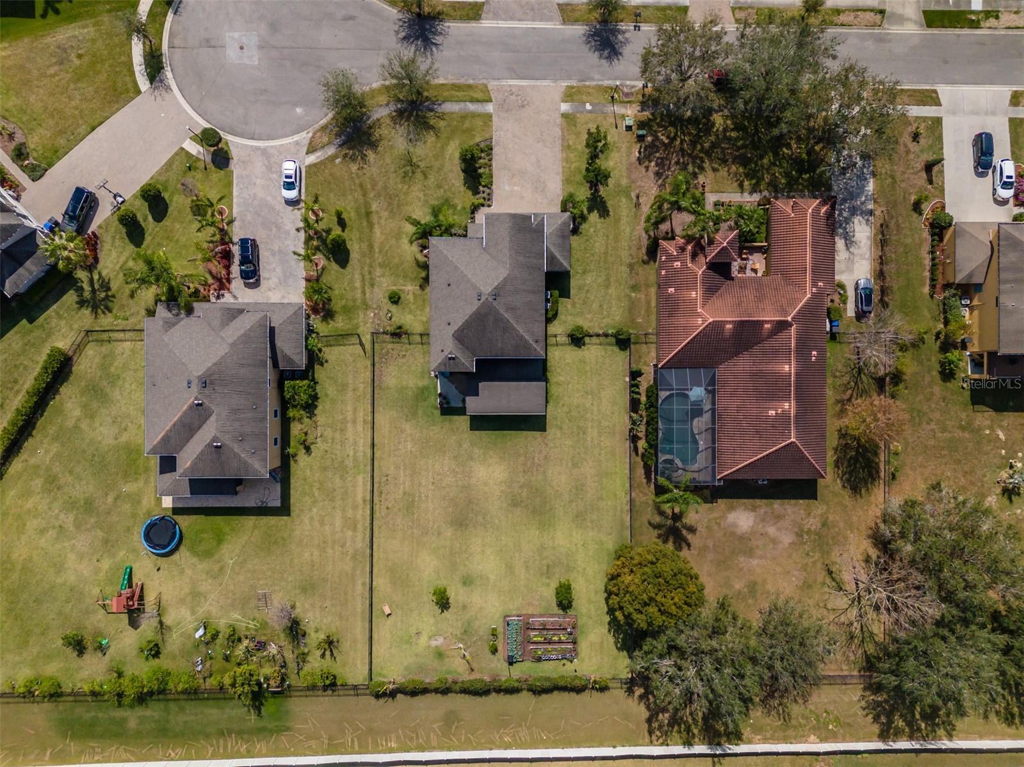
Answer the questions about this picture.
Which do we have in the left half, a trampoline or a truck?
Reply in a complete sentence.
It is a trampoline that can be seen in the left half.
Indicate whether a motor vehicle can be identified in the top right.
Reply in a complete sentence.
Yes, a motor vehicle can be seen in the top right.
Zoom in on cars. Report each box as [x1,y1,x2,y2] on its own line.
[969,131,995,174]
[62,181,98,232]
[235,240,259,284]
[988,159,1014,202]
[279,161,302,204]
[850,278,875,323]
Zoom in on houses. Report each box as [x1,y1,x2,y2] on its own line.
[0,183,68,303]
[658,194,837,479]
[144,302,307,496]
[429,209,570,388]
[943,221,1024,358]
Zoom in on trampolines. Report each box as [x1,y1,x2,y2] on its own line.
[141,519,181,557]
